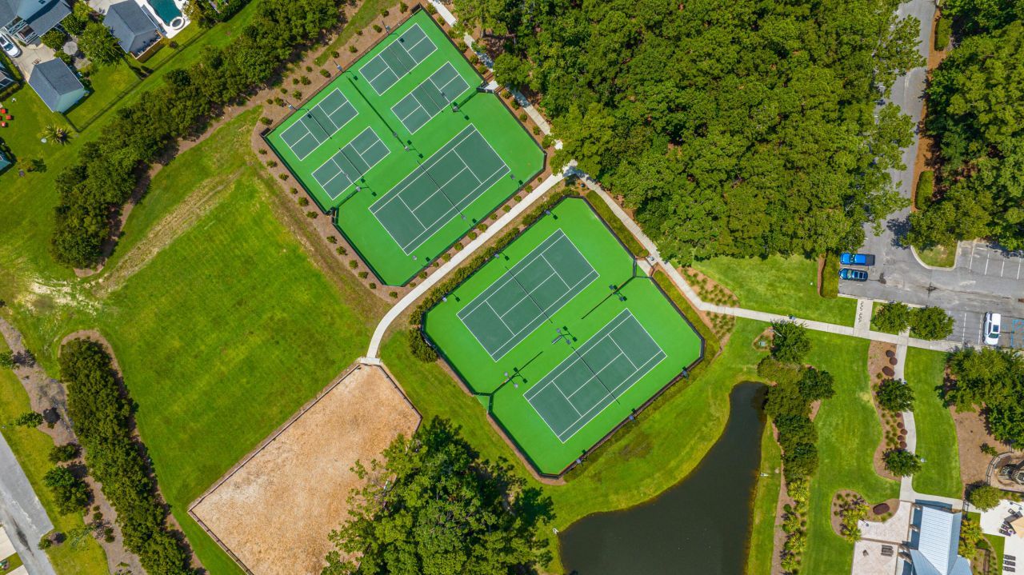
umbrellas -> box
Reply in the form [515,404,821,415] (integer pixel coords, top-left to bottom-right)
[65,42,80,56]
[1011,517,1024,540]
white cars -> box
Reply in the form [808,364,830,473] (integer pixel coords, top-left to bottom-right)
[983,313,1001,343]
[0,29,19,57]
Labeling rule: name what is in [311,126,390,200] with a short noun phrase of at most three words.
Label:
sports court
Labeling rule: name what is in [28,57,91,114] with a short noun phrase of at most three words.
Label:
building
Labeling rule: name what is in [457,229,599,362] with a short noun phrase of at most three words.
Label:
tennis court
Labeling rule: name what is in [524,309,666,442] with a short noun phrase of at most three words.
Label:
tennis court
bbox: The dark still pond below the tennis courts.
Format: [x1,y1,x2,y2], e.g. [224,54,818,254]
[558,381,768,575]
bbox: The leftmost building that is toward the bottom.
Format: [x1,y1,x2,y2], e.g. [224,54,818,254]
[895,503,970,575]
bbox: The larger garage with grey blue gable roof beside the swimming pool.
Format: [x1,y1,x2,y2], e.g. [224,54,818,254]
[104,0,163,55]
